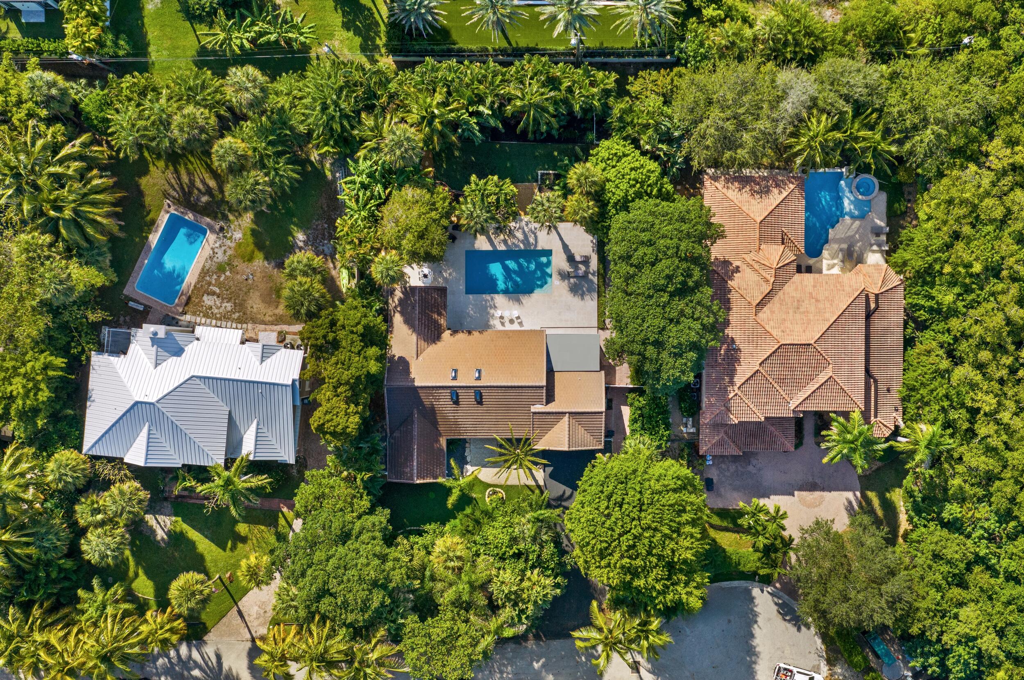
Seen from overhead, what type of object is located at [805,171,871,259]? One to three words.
swimming pool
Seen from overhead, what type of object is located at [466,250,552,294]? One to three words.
swimming pool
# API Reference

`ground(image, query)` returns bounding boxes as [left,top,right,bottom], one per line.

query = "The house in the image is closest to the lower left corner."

[82,323,311,467]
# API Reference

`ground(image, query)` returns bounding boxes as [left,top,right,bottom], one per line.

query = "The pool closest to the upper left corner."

[135,212,209,307]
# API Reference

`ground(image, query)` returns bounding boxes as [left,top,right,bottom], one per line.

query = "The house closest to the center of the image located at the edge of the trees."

[385,287,606,484]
